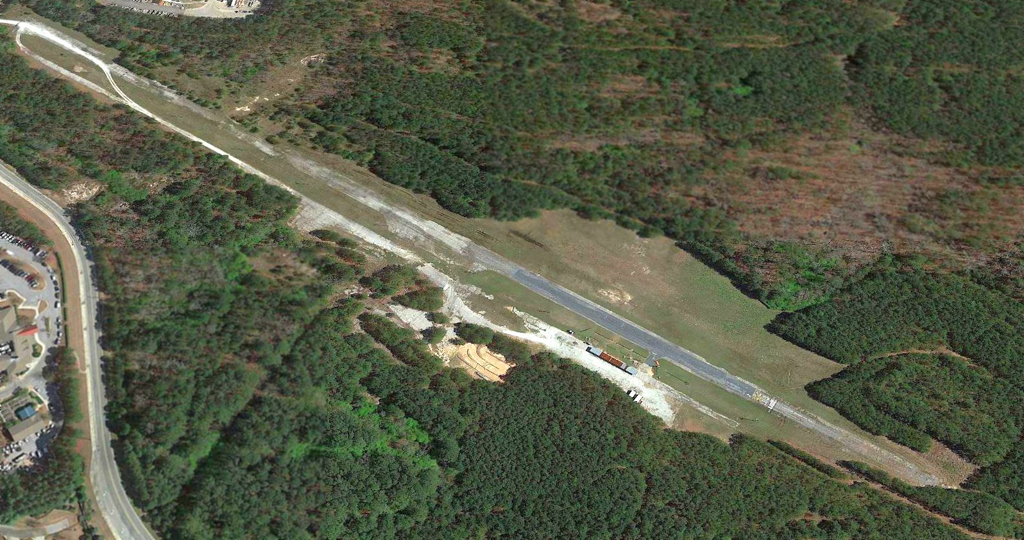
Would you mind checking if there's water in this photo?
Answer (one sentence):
No, the picture contains no water.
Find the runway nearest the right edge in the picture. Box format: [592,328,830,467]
[746,389,941,487]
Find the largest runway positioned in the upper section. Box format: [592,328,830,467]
[282,151,516,276]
